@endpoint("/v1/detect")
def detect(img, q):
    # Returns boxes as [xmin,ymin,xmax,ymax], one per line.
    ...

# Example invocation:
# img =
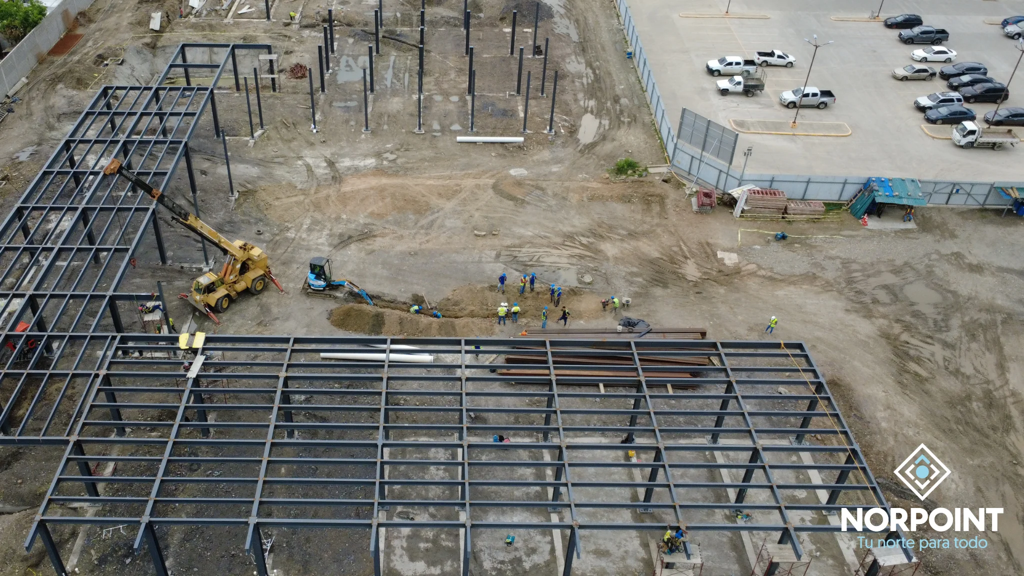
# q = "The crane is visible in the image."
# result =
[106,166,285,328]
